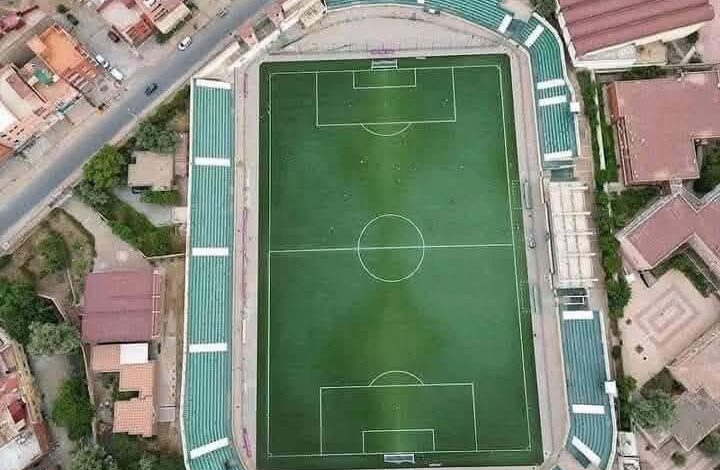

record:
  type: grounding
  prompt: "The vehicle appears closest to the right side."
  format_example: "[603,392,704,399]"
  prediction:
[214,5,228,18]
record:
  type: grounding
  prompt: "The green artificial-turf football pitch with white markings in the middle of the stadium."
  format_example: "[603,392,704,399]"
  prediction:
[256,54,544,470]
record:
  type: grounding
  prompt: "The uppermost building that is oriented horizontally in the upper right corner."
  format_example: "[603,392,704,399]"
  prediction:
[551,0,716,70]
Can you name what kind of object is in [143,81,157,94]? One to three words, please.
vehicle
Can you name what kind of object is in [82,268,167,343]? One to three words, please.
shed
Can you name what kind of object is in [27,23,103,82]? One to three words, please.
house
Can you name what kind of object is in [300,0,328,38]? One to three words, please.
building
